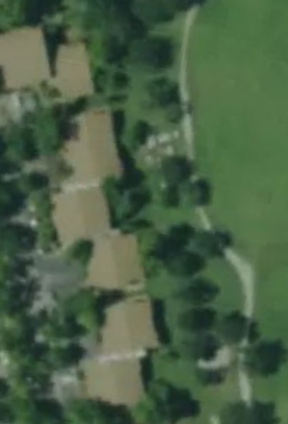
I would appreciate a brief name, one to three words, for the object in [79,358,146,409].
house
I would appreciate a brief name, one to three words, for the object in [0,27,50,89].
house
